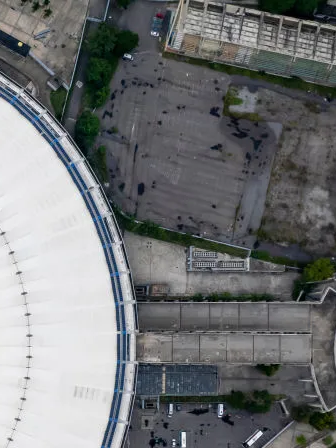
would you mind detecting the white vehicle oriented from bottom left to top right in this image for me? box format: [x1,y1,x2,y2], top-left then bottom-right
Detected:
[244,429,264,446]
